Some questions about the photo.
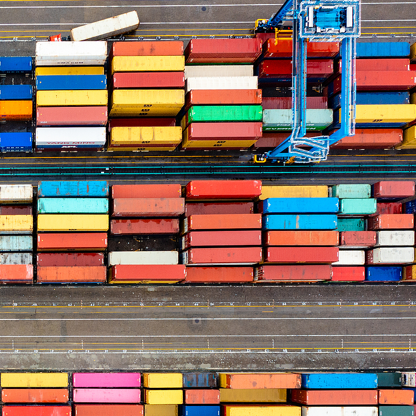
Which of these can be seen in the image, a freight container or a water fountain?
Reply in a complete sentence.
This aerial view contains a freight container.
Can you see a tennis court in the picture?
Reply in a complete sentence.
No, no tennis court is visible in the scene.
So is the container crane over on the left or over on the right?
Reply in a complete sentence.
It is on the right.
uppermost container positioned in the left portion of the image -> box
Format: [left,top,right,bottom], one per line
[70,10,139,40]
